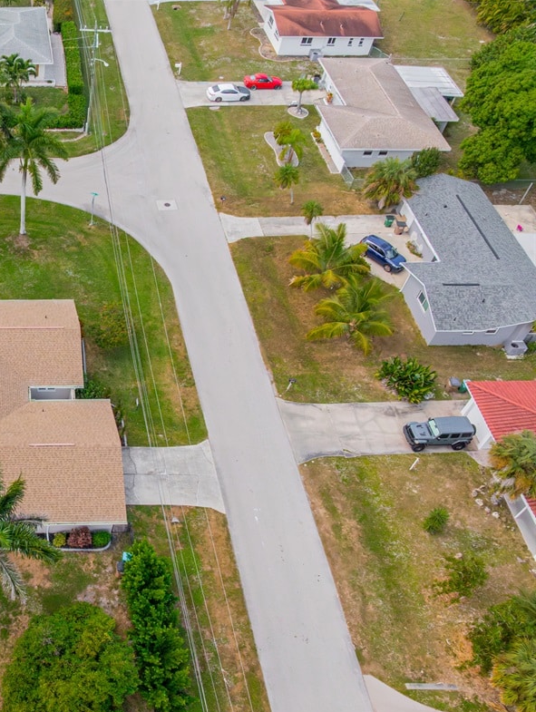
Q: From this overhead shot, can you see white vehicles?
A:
Yes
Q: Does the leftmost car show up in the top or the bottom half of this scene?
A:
top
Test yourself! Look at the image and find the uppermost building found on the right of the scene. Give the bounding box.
[262,0,384,55]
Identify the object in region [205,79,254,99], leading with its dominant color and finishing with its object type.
white car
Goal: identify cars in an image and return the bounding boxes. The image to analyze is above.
[358,233,411,275]
[405,415,482,450]
[242,69,286,87]
[205,79,254,99]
